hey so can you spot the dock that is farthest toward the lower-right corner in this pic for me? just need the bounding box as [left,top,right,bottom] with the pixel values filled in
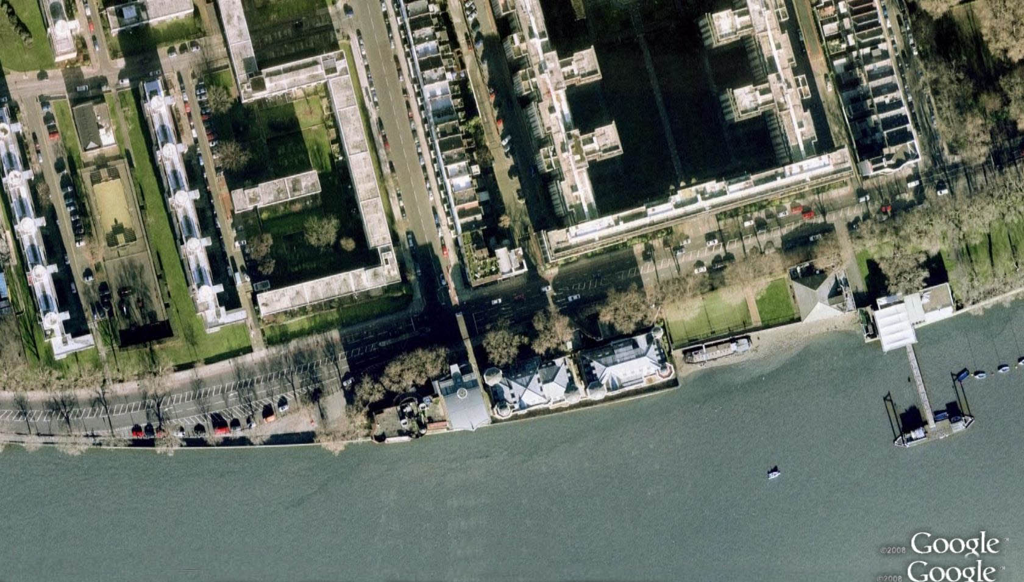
[894,417,974,448]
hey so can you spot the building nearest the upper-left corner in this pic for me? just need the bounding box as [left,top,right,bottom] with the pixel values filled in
[37,0,80,68]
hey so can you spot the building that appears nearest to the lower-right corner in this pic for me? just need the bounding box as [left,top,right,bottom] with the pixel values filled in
[873,283,953,352]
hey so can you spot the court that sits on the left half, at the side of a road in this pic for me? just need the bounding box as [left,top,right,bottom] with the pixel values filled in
[81,160,152,261]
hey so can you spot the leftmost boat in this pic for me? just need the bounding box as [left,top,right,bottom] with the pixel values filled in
[683,336,752,364]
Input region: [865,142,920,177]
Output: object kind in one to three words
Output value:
house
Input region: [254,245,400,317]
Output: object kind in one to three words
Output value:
building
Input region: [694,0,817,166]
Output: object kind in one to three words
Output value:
building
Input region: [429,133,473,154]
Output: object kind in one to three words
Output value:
house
